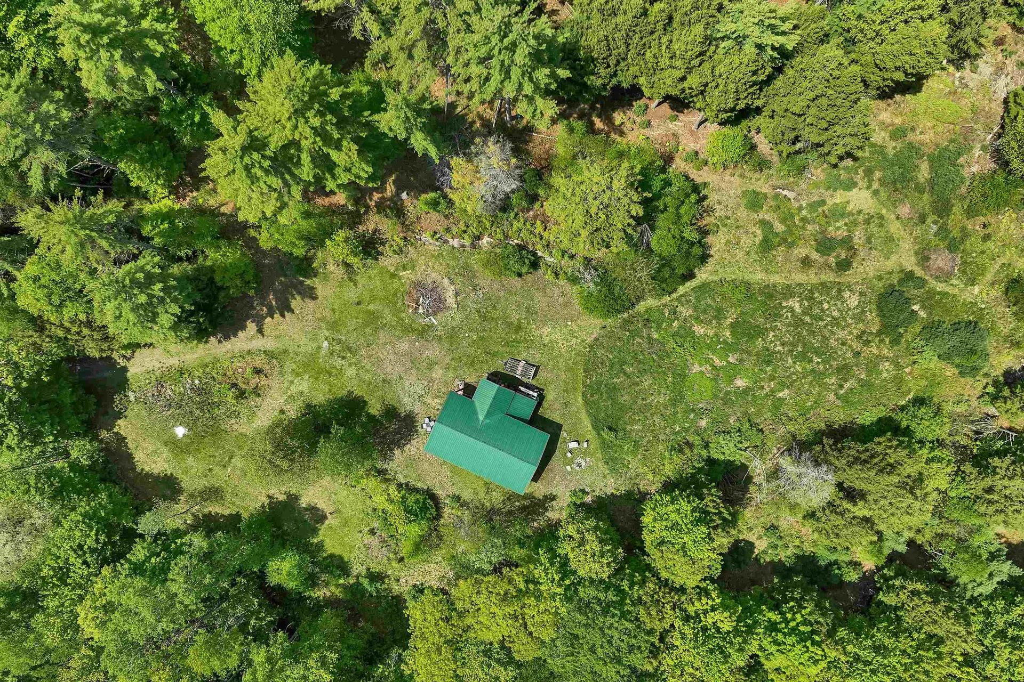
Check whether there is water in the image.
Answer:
No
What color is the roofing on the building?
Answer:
green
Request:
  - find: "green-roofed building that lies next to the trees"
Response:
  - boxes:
[423,367,550,496]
